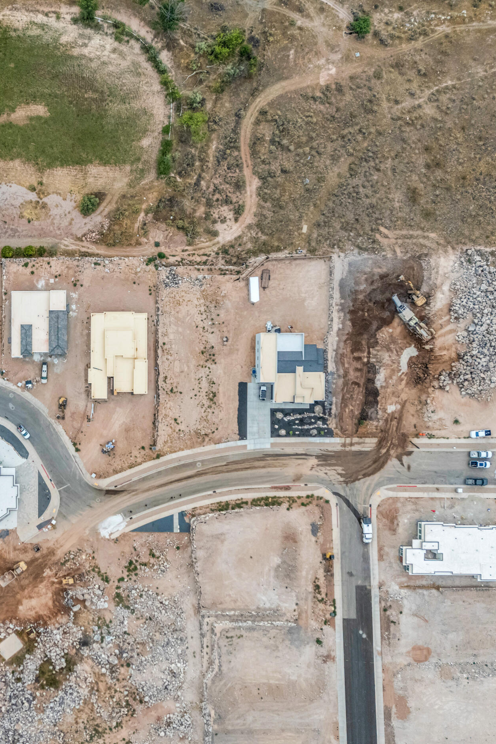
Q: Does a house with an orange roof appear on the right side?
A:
No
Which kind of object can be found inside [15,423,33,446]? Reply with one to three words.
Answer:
vehicle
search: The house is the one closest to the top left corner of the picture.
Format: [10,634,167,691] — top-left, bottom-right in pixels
[12,290,68,359]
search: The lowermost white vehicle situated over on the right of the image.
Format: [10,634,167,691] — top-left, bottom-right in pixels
[360,517,373,544]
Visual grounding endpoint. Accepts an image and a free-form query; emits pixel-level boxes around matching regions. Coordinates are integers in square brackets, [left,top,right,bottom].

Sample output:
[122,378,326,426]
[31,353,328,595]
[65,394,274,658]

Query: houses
[254,333,325,404]
[12,290,68,359]
[399,520,496,580]
[0,466,20,519]
[87,312,148,399]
